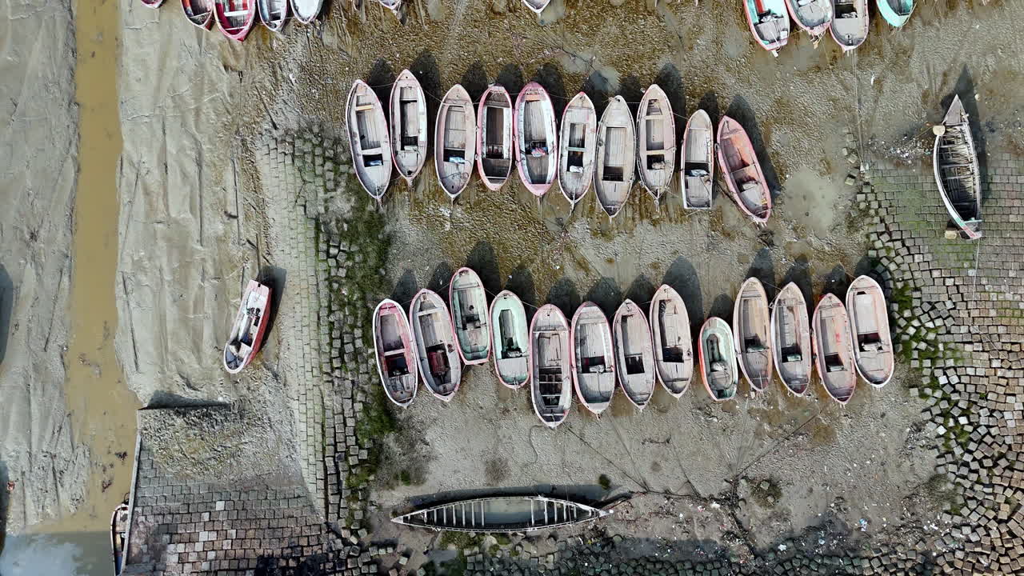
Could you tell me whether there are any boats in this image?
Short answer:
Yes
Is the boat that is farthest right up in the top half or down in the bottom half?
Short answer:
top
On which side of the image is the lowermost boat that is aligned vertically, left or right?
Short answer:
left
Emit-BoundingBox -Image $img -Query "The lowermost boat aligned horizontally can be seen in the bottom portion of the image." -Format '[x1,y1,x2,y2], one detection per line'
[393,493,609,535]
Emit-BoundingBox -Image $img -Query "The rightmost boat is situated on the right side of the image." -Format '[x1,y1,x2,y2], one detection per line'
[936,94,987,234]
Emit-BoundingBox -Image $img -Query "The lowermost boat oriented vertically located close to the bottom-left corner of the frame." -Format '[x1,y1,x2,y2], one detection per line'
[107,500,128,576]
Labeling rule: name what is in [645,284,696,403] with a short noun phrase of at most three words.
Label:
boat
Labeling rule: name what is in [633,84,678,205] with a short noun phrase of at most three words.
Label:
boat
